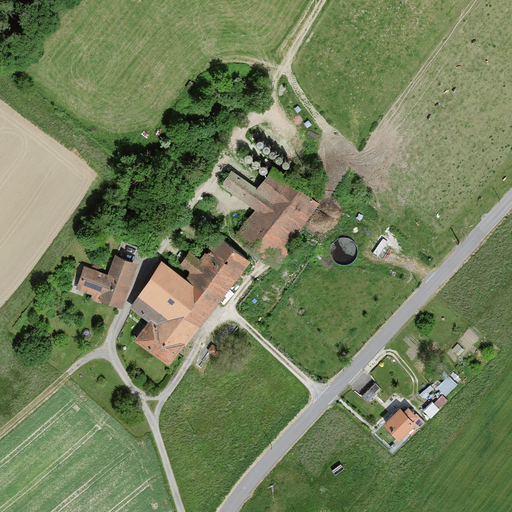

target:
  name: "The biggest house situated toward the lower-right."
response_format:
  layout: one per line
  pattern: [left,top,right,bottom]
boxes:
[384,407,423,442]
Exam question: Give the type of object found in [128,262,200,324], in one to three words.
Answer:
barn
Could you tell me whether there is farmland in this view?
Yes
